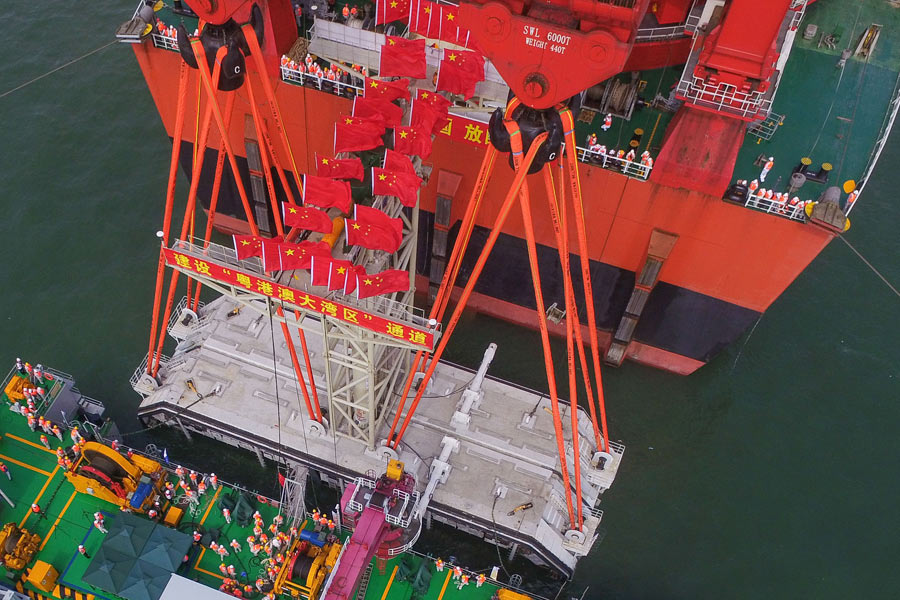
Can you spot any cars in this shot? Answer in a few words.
No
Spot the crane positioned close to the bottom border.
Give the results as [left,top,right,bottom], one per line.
[304,452,432,600]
